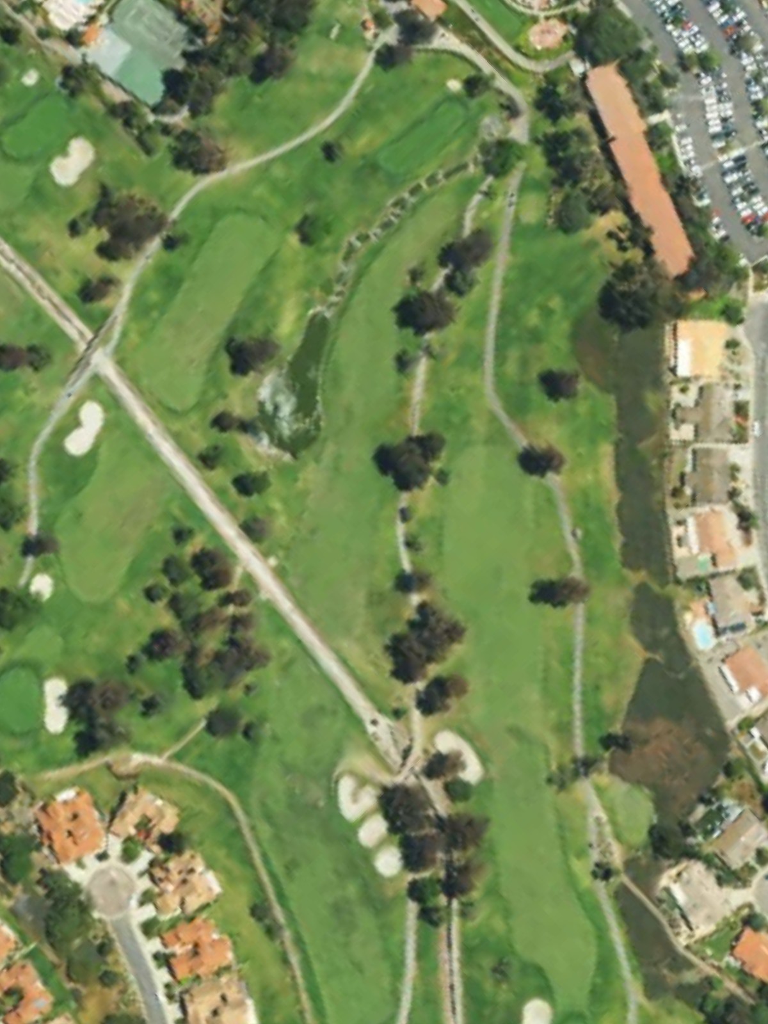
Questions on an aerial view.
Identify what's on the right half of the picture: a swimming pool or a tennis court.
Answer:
swimming pool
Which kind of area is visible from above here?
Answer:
golf course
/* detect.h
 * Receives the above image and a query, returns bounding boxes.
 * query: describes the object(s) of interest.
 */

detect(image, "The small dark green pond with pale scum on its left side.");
[256,313,333,459]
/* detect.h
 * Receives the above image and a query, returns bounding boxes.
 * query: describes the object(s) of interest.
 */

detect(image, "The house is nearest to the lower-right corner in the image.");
[727,926,768,988]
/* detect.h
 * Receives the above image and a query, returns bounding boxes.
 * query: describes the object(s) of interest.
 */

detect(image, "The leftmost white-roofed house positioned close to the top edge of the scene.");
[45,0,99,32]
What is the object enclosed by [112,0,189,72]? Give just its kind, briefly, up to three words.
tennis court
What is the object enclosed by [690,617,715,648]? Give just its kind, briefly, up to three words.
swimming pool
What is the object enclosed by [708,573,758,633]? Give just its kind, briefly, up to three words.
house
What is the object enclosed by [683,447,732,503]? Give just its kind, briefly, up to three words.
house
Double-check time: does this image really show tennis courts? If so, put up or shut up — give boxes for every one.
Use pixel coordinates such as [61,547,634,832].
[112,0,189,72]
[114,46,167,107]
